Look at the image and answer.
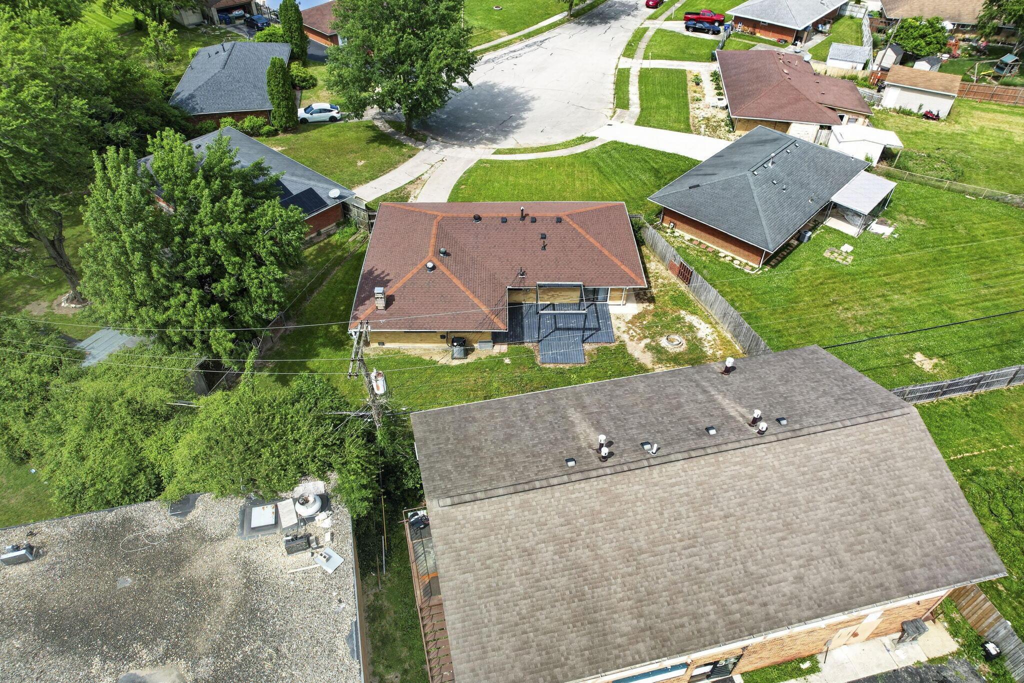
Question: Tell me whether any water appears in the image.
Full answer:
No, no water is visible.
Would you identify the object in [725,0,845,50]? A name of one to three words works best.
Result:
house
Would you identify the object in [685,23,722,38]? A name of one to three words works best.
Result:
car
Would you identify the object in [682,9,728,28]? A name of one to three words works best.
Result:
vehicle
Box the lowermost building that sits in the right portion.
[411,345,1006,683]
